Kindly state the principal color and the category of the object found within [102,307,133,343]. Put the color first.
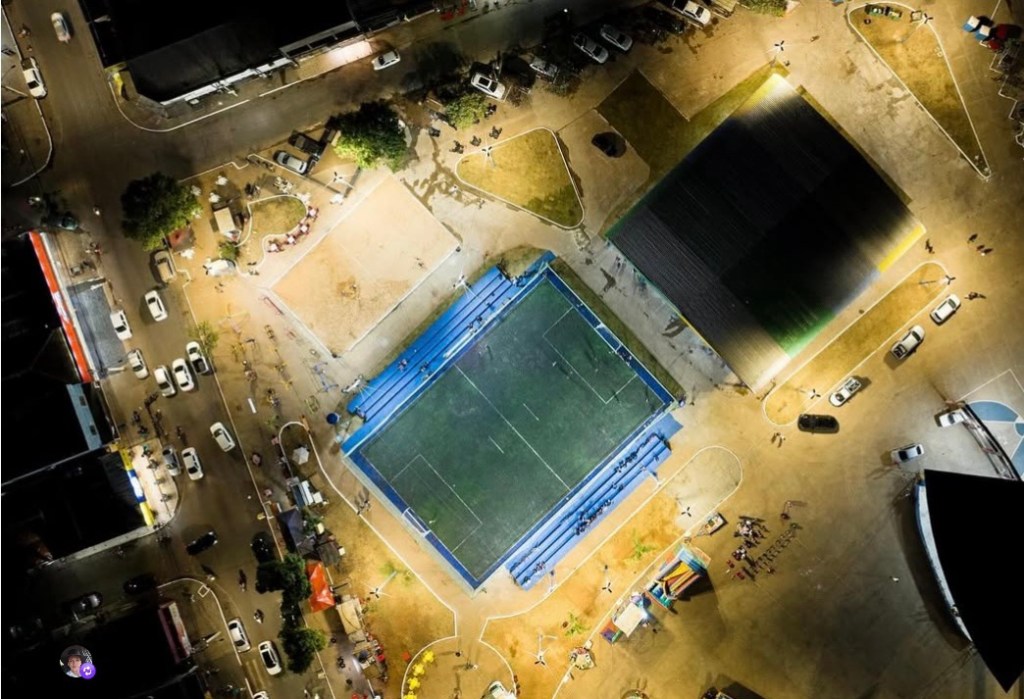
white car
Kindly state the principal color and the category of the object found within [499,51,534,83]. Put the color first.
black car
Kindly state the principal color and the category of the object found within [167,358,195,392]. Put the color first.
white car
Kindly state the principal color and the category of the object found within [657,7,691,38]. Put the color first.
black car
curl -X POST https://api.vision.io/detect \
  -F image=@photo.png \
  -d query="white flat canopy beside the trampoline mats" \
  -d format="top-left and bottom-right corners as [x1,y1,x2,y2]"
[610,600,648,639]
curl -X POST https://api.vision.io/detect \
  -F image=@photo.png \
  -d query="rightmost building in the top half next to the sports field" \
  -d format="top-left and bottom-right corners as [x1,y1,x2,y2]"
[604,73,925,394]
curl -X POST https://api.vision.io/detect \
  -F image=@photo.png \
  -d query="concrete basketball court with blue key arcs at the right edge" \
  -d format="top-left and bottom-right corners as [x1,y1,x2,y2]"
[956,368,1024,485]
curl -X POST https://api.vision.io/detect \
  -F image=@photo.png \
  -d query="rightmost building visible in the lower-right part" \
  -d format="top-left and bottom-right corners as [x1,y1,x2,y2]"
[907,470,1024,692]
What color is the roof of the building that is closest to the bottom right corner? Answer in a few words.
black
